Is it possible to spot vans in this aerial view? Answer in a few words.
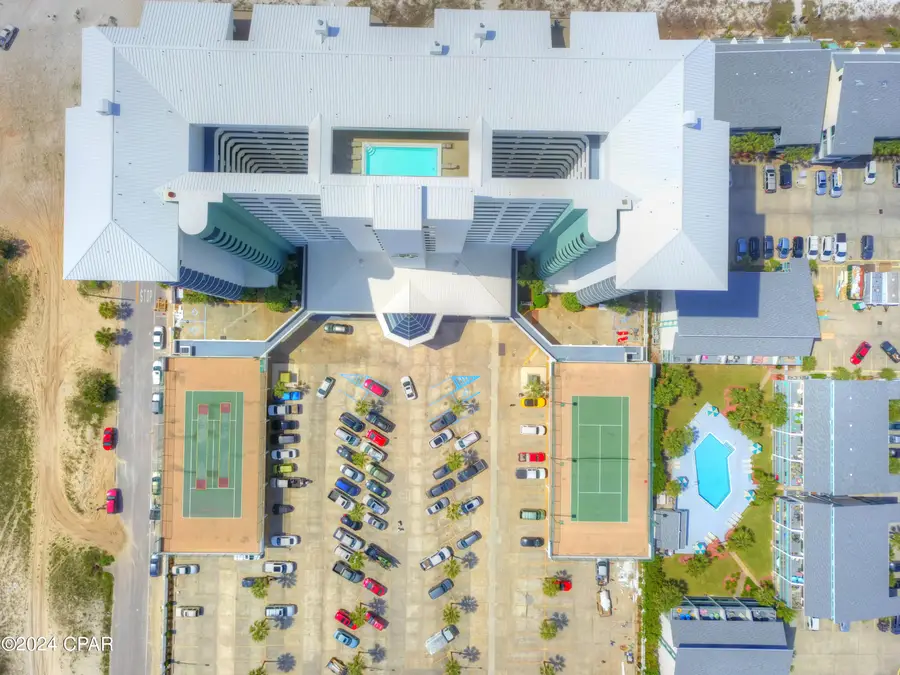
Yes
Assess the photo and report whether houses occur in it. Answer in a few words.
Yes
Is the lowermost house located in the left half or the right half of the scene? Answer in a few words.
right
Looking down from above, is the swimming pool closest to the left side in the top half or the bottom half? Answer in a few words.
top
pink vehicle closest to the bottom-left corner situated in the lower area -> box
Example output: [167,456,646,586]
[105,485,120,517]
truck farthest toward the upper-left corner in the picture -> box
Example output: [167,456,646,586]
[0,23,23,54]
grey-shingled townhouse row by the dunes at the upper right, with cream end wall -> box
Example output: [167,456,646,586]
[815,48,900,163]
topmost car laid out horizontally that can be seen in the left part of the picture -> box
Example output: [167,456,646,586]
[325,323,351,335]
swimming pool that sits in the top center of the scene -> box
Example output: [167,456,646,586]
[362,143,440,178]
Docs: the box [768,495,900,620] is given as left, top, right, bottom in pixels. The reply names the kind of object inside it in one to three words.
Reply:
house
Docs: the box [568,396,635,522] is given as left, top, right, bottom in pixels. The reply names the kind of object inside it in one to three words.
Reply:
tennis court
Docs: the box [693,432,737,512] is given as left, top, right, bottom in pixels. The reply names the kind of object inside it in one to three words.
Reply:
swimming pool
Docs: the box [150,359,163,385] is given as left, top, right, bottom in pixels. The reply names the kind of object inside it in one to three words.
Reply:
vehicle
